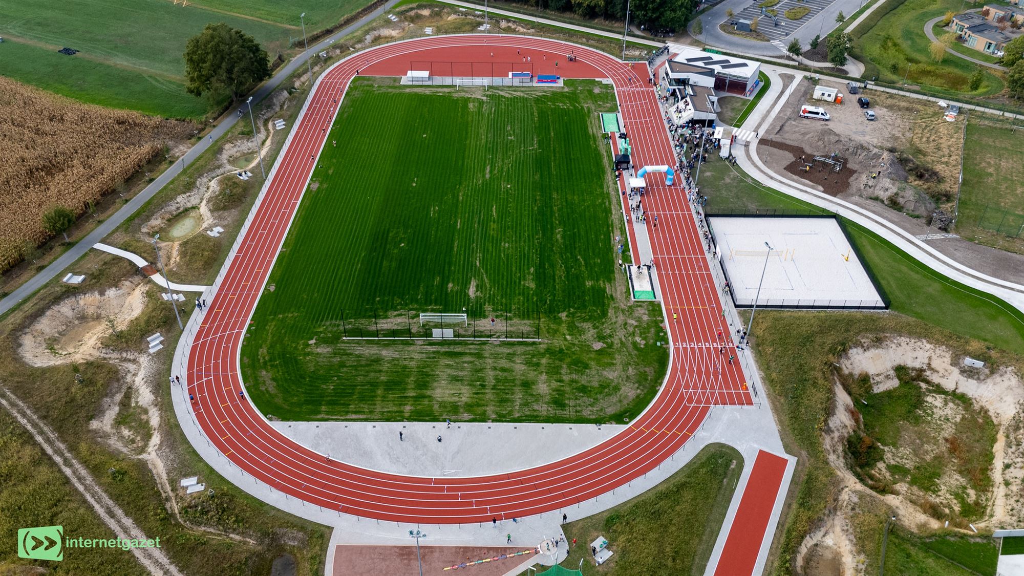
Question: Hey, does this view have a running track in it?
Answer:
Yes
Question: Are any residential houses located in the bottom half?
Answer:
No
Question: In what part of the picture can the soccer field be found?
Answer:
center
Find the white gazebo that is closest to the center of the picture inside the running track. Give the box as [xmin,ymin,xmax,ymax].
[628,175,647,192]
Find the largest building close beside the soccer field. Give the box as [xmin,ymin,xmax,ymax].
[665,48,760,127]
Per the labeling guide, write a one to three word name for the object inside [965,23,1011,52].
house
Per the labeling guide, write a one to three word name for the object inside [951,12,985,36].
house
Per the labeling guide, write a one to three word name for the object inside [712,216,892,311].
sports court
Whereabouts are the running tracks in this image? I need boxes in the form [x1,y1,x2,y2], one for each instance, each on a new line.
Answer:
[187,36,755,522]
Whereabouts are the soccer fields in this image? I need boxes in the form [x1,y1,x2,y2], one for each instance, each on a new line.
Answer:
[241,78,668,425]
